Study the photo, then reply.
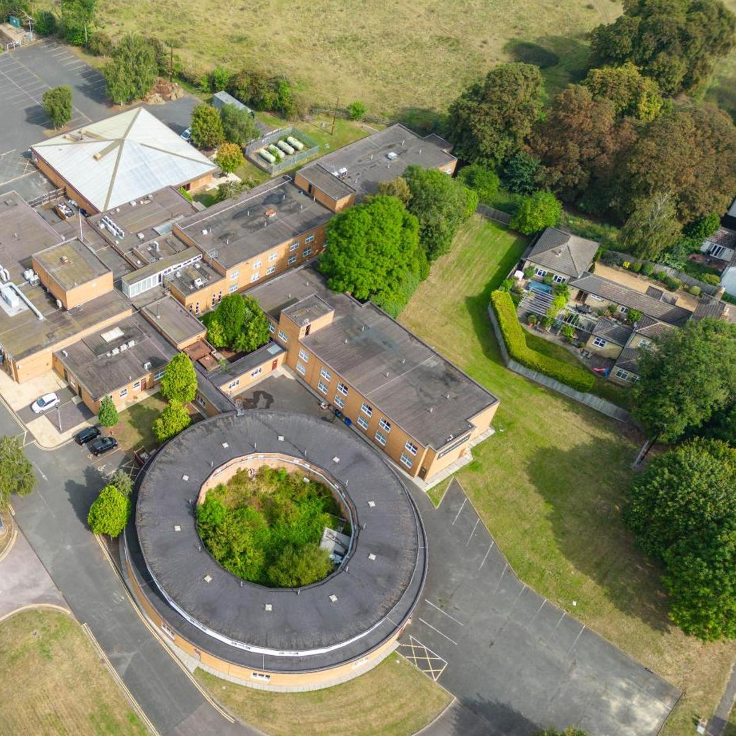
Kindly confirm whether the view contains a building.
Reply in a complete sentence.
Yes, the photo shows a building.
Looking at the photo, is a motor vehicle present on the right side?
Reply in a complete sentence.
No, the scene shows no motor vehicle on the right side.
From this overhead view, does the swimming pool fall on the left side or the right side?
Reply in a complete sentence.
The swimming pool sits on the right side.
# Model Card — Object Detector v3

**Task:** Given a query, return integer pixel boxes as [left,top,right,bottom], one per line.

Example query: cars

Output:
[68,424,104,448]
[28,390,62,413]
[180,126,193,143]
[84,433,122,458]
